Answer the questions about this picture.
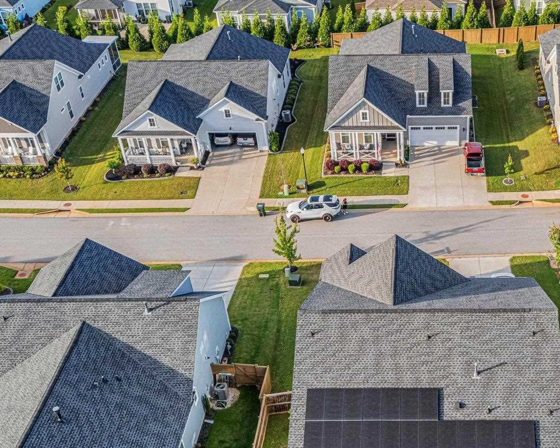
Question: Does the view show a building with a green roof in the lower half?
No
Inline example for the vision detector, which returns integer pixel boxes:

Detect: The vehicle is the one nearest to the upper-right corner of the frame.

[462,141,485,170]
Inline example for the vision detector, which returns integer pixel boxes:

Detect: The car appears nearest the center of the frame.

[286,192,340,221]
